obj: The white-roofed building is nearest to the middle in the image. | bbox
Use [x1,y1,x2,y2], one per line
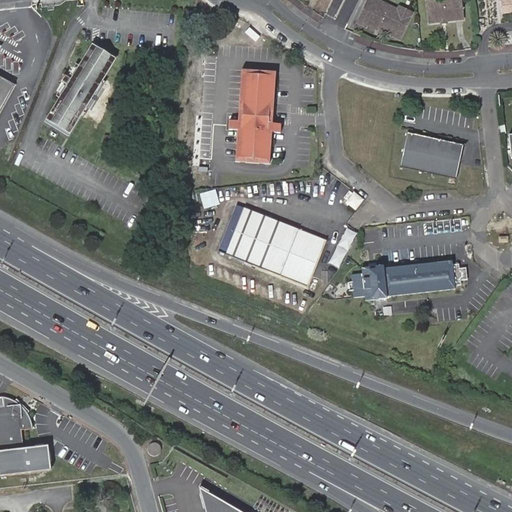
[219,204,327,289]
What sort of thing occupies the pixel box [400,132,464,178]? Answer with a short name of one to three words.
building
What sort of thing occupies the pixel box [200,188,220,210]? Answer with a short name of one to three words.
shed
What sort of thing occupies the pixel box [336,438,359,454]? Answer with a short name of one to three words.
vehicle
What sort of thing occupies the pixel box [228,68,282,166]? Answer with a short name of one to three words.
building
